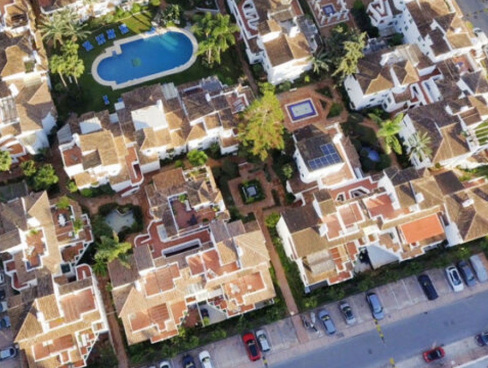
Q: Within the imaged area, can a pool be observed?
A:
Yes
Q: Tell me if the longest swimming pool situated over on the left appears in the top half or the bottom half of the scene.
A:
top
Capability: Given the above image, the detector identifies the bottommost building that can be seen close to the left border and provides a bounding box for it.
[6,270,110,368]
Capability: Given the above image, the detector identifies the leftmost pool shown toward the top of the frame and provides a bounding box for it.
[92,27,197,90]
